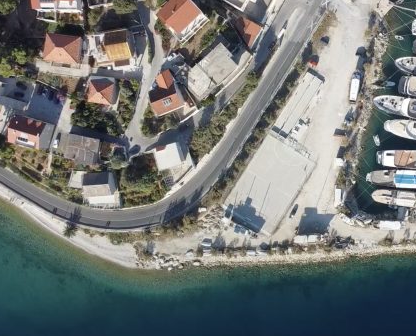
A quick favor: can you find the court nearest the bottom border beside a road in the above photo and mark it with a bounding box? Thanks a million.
[223,134,316,235]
